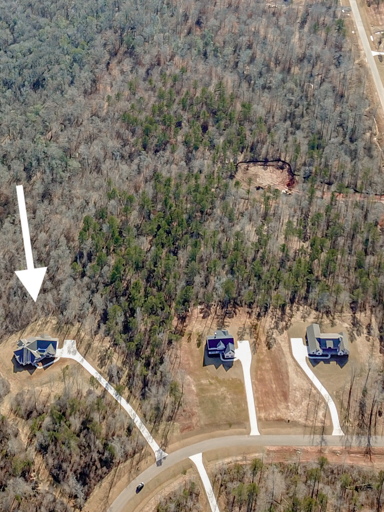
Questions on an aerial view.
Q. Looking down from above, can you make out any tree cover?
Yes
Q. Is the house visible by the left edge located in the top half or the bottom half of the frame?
bottom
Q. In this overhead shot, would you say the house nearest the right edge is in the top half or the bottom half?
bottom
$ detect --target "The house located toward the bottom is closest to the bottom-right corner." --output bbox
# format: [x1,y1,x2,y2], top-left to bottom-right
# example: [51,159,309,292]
[308,322,349,357]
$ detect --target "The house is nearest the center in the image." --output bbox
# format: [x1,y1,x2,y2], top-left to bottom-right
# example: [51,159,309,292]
[206,322,235,358]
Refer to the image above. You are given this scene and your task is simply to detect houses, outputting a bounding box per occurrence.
[14,329,59,367]
[308,322,349,357]
[206,322,235,358]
